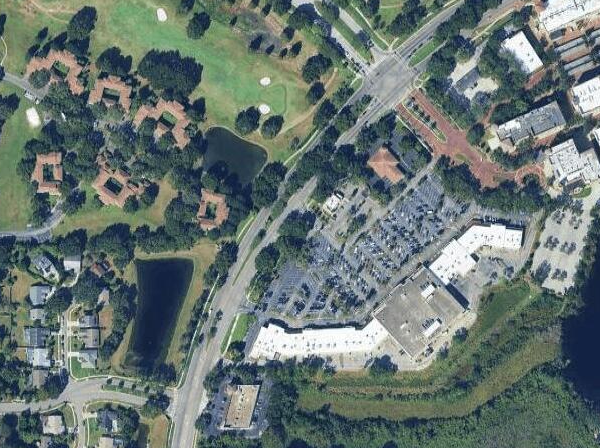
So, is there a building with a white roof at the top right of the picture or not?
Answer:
Yes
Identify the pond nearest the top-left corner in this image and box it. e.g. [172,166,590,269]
[204,127,267,189]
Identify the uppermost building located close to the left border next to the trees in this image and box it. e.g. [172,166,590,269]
[25,46,88,90]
